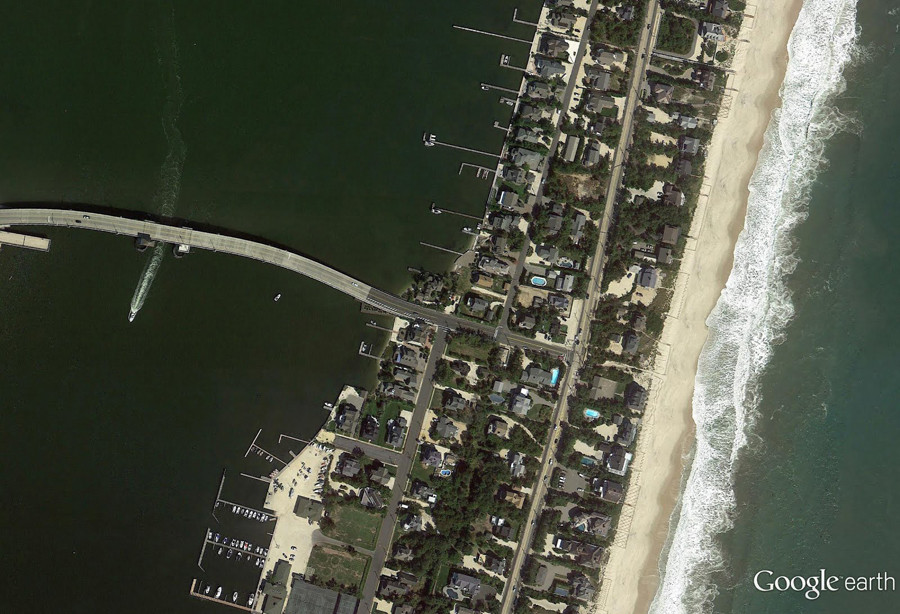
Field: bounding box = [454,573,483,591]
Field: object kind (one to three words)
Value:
house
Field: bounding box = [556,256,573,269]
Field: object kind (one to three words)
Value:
swimming pool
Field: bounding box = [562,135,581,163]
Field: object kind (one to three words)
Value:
house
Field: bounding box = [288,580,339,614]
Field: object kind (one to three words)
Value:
shed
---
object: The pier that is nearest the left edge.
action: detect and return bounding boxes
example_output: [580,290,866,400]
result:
[0,229,51,251]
